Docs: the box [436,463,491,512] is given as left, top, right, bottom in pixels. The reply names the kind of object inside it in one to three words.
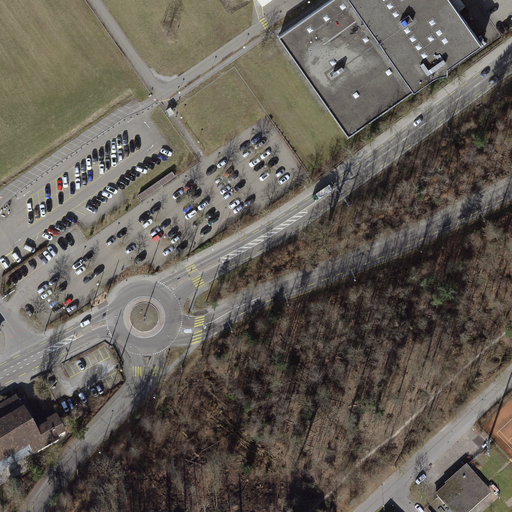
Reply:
building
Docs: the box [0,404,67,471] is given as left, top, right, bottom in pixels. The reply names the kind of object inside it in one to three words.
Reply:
house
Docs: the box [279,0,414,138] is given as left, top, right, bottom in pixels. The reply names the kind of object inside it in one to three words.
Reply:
building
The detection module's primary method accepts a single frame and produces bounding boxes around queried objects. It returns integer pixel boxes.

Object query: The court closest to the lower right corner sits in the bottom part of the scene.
[481,398,512,460]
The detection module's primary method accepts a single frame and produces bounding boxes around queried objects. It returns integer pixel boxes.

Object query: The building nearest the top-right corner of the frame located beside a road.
[356,0,482,96]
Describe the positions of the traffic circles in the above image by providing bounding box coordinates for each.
[106,280,183,356]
